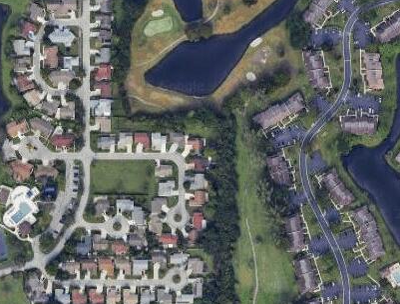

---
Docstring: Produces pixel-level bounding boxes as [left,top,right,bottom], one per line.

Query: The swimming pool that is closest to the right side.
[383,262,400,286]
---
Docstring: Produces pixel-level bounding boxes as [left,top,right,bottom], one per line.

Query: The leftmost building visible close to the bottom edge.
[22,275,52,304]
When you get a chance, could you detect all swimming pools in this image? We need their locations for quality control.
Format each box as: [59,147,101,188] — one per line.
[0,186,39,228]
[383,262,400,286]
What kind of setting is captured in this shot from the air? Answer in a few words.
residential area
